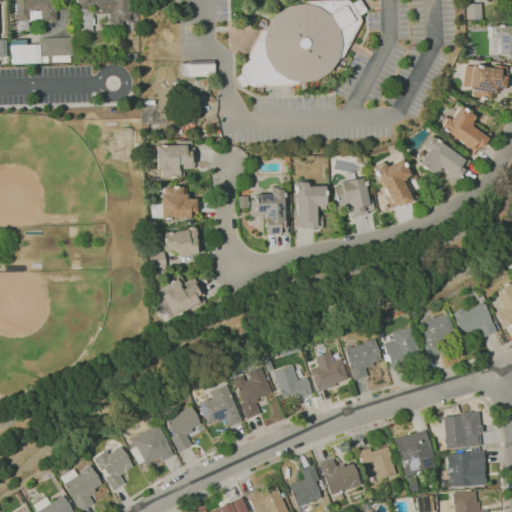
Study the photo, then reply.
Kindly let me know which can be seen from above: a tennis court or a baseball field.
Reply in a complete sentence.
There is a baseball field in the scene.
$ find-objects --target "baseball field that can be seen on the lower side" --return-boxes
[0,270,110,400]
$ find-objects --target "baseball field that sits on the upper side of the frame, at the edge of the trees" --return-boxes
[0,113,107,226]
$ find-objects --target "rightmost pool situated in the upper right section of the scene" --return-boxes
[410,129,430,150]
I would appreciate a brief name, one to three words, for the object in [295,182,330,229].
house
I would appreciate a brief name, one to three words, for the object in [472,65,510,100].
house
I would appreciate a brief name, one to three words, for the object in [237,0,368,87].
building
